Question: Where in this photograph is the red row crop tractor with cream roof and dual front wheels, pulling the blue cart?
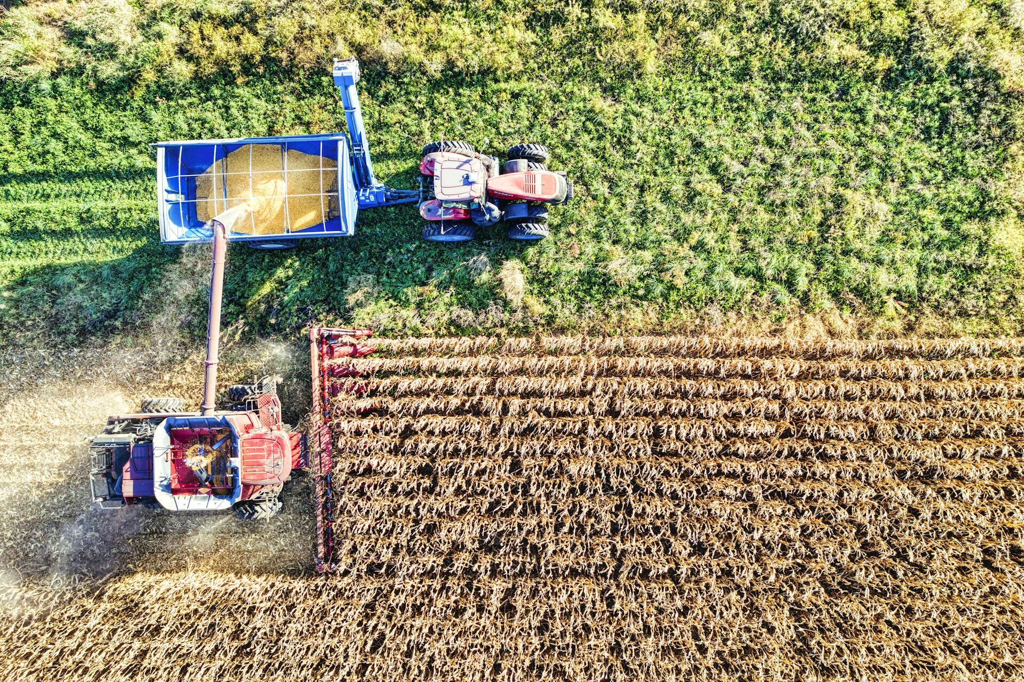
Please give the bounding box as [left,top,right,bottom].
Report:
[419,135,577,243]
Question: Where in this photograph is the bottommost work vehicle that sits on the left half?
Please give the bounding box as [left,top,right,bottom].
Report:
[83,220,393,574]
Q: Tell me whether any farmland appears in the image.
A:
Yes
